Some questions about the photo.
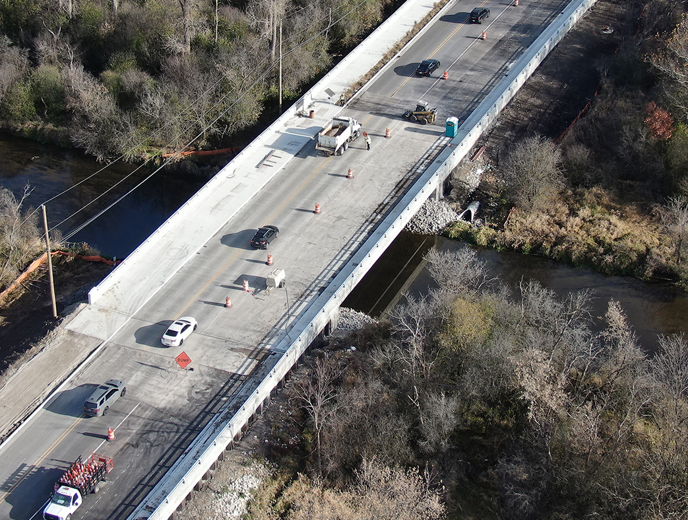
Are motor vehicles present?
Yes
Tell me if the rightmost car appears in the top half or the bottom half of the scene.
top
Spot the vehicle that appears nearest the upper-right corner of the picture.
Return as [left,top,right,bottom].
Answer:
[466,5,491,24]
